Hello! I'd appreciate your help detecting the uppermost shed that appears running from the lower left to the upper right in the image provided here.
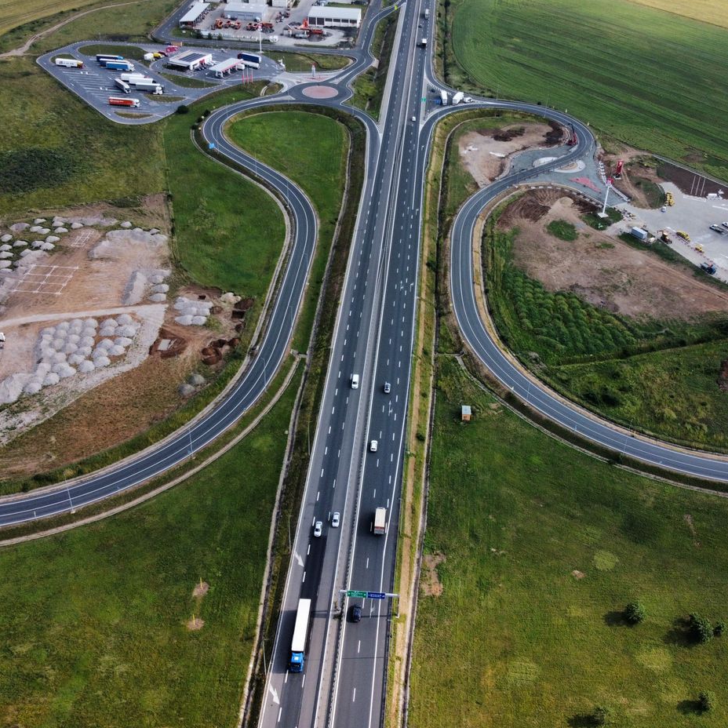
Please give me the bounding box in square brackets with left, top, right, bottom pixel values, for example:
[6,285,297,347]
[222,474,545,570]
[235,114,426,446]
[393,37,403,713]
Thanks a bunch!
[178,1,210,28]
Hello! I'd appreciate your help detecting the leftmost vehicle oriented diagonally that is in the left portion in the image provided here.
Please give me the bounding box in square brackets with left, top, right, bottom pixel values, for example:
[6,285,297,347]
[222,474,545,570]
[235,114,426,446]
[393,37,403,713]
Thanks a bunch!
[114,77,131,94]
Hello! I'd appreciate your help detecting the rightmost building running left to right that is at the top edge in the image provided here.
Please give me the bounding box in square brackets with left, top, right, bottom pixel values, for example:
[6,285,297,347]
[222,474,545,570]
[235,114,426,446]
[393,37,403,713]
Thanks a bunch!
[307,7,366,28]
